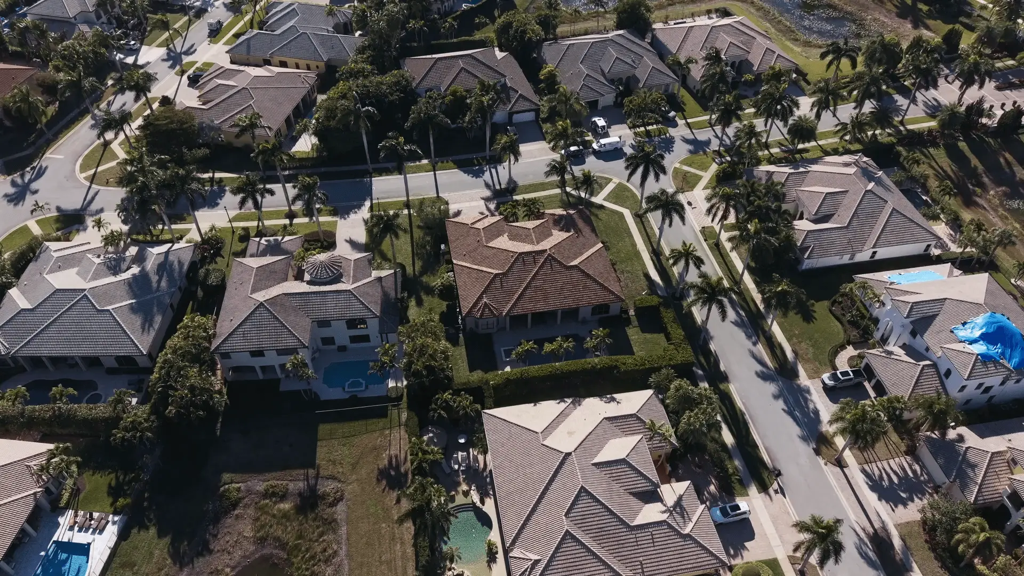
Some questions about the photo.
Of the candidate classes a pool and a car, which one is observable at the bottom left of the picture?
pool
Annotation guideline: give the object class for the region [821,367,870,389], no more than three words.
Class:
truck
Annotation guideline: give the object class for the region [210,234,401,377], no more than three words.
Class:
house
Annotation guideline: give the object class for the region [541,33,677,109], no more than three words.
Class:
house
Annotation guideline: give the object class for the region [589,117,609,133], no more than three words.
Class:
car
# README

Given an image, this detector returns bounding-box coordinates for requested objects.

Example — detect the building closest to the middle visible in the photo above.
[445,206,625,339]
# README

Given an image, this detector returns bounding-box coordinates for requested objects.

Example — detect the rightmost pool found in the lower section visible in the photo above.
[515,332,592,367]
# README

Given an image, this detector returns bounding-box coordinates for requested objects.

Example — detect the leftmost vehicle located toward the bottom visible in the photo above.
[709,500,754,528]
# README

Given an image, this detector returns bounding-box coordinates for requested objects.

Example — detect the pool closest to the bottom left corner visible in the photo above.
[29,538,93,576]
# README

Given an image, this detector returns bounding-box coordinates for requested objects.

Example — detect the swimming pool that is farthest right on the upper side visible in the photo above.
[899,187,931,210]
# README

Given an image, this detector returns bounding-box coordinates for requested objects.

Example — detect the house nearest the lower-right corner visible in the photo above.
[915,416,1024,522]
